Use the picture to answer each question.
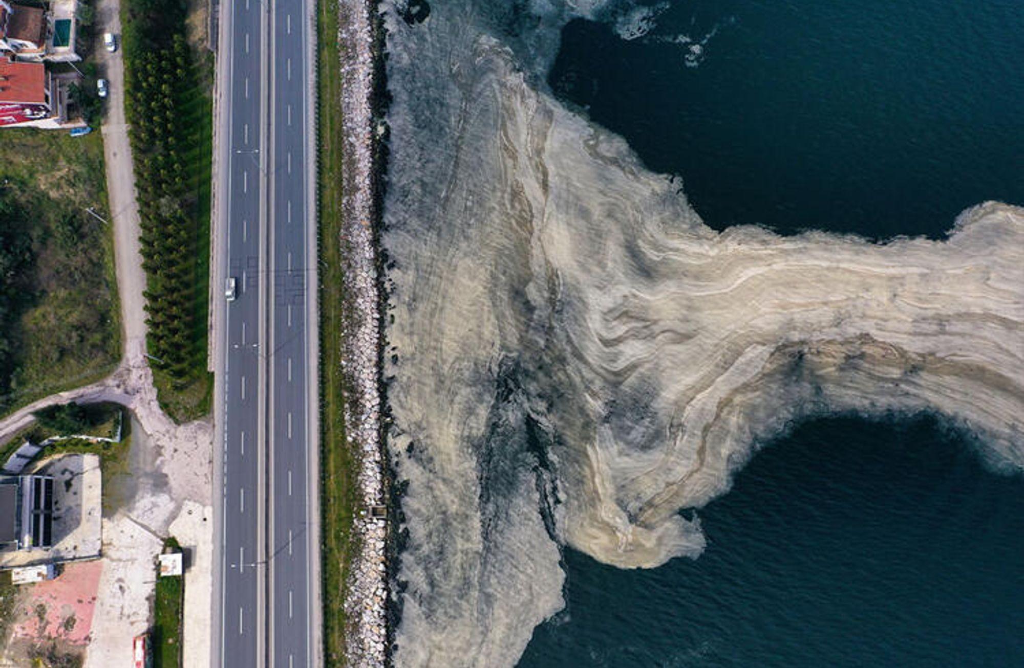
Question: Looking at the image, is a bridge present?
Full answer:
No, there isn't any bridge down there.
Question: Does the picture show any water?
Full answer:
Yes, the picture does contain water.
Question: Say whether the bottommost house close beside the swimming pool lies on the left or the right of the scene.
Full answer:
You can find the bottommost house close beside the swimming pool on the left side of the picture.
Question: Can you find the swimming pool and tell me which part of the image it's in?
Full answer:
Look in the top left portion of the view to spot the swimming pool.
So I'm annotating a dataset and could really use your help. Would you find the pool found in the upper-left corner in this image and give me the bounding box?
[43,0,82,62]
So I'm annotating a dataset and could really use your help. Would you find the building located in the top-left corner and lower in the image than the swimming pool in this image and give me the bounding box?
[0,61,81,134]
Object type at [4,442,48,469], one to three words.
shed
